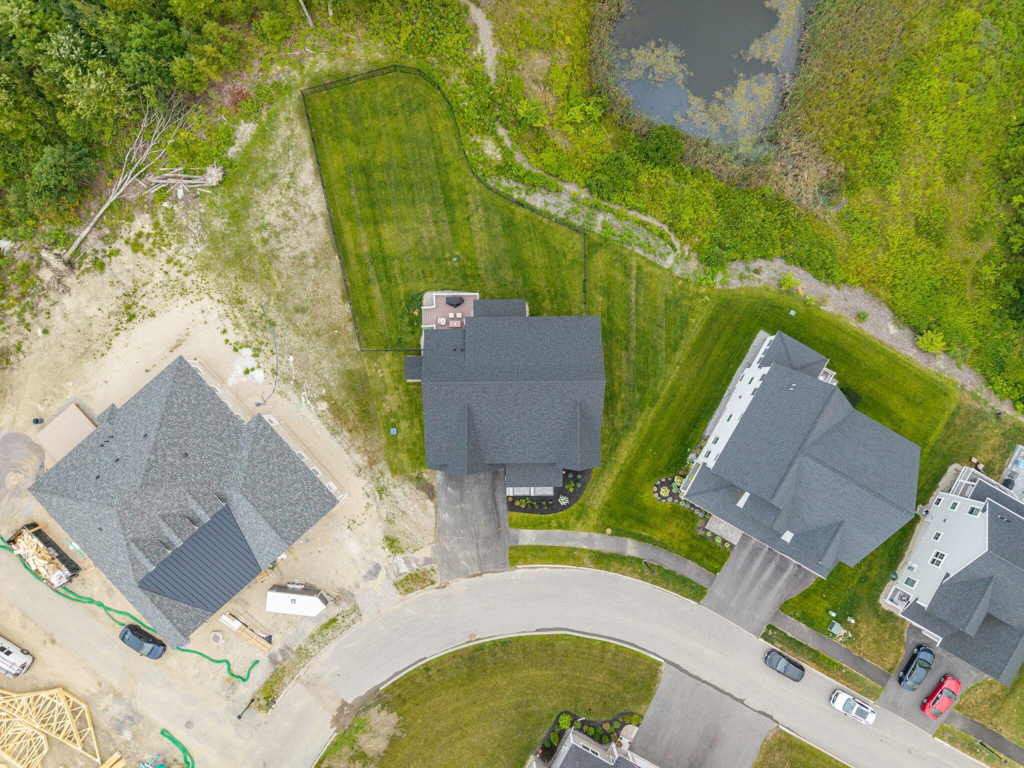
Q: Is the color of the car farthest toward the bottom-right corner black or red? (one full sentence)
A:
The color of the car farthest toward the bottom-right corner is red.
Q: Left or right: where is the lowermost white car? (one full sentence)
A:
The lowermost white car is on the right side of the image.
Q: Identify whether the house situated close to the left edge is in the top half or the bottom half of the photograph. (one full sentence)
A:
It is in the bottom half that the house situated close to the left edge appears.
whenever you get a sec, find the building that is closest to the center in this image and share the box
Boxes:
[404,299,606,487]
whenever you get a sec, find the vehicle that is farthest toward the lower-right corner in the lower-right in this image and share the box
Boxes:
[922,675,960,721]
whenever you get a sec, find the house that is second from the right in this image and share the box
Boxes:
[678,330,921,580]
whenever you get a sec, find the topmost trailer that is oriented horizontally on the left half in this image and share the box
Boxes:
[265,584,337,616]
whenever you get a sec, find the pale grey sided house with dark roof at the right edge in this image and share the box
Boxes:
[866,481,1024,692]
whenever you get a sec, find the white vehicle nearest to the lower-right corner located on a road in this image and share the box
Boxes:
[829,691,879,728]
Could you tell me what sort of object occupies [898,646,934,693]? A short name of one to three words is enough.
car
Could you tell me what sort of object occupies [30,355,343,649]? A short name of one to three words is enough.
house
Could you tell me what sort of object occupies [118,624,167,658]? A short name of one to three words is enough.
car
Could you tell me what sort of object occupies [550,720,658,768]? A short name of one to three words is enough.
house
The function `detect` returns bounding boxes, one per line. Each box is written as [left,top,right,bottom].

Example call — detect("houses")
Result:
[866,481,1024,692]
[404,299,606,487]
[678,330,921,580]
[30,355,343,649]
[550,720,658,768]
